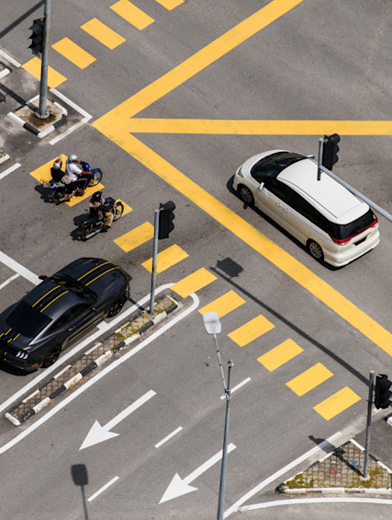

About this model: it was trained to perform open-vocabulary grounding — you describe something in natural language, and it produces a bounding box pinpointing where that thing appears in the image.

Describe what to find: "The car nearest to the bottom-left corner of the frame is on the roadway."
[0,256,132,375]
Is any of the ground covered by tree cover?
No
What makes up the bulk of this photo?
paved ground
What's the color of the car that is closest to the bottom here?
black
